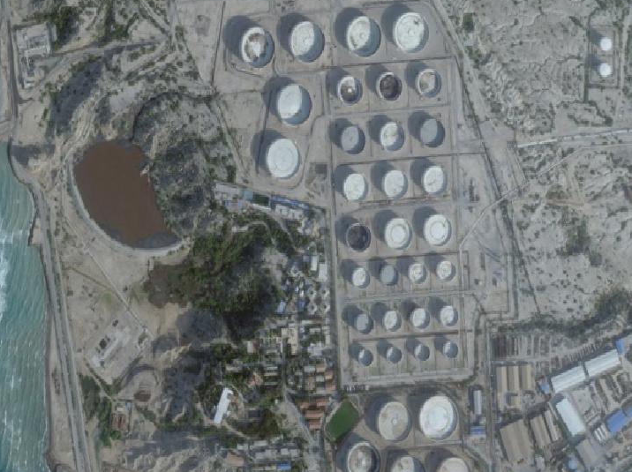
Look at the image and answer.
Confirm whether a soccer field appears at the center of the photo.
No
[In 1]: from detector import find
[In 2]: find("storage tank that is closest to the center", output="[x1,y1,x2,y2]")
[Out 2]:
[341,221,371,254]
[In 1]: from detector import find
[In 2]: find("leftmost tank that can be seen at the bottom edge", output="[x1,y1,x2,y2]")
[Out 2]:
[341,440,382,472]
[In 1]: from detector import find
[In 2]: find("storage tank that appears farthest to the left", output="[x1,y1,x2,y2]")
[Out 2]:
[235,26,276,69]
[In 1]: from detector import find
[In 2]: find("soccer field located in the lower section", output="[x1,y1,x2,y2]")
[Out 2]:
[325,398,360,442]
